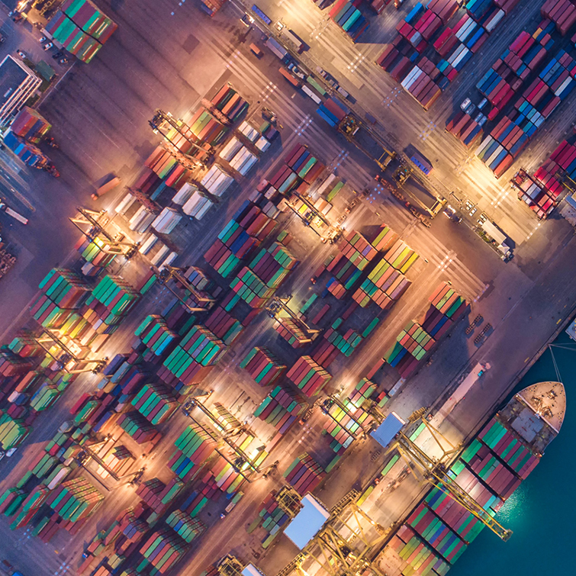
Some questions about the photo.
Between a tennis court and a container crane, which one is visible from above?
container crane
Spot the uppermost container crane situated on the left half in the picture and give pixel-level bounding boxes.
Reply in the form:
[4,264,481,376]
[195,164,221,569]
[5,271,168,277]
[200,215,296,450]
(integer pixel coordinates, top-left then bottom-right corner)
[145,107,218,166]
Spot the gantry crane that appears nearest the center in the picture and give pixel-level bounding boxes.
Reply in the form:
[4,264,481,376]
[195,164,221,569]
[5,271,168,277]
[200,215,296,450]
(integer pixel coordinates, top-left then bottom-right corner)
[265,292,330,345]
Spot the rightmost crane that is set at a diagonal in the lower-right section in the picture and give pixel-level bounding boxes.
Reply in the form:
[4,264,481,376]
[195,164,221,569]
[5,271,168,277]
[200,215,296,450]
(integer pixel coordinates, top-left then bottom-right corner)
[357,392,516,543]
